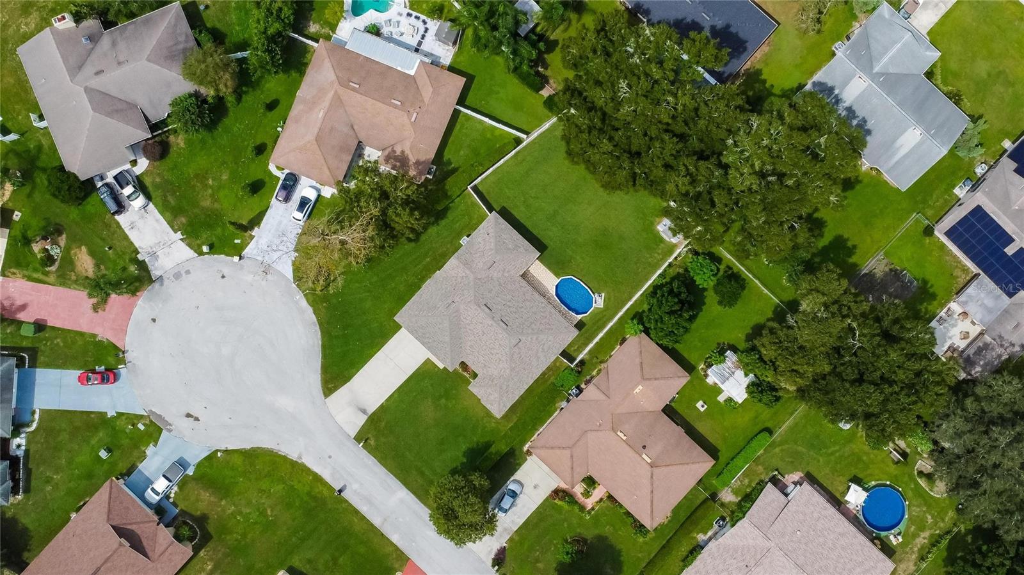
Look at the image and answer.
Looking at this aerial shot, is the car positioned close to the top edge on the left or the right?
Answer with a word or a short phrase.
right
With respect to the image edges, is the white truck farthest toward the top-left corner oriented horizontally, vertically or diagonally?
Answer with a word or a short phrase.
diagonally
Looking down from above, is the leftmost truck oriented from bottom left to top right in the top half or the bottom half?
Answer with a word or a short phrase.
bottom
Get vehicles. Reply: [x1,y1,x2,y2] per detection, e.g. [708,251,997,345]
[110,168,147,211]
[895,0,922,21]
[497,479,522,517]
[78,370,117,387]
[275,170,300,206]
[98,181,124,217]
[144,460,186,504]
[293,185,318,223]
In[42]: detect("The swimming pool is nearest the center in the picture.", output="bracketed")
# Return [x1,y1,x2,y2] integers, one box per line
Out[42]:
[554,276,594,316]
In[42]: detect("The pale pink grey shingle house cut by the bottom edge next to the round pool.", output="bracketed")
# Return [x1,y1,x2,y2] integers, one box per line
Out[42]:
[681,481,896,575]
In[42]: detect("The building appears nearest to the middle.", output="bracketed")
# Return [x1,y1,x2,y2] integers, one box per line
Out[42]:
[393,211,579,418]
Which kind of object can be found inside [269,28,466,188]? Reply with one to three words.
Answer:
house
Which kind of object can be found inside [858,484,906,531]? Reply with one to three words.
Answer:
swimming pool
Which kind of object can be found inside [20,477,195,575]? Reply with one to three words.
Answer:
house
